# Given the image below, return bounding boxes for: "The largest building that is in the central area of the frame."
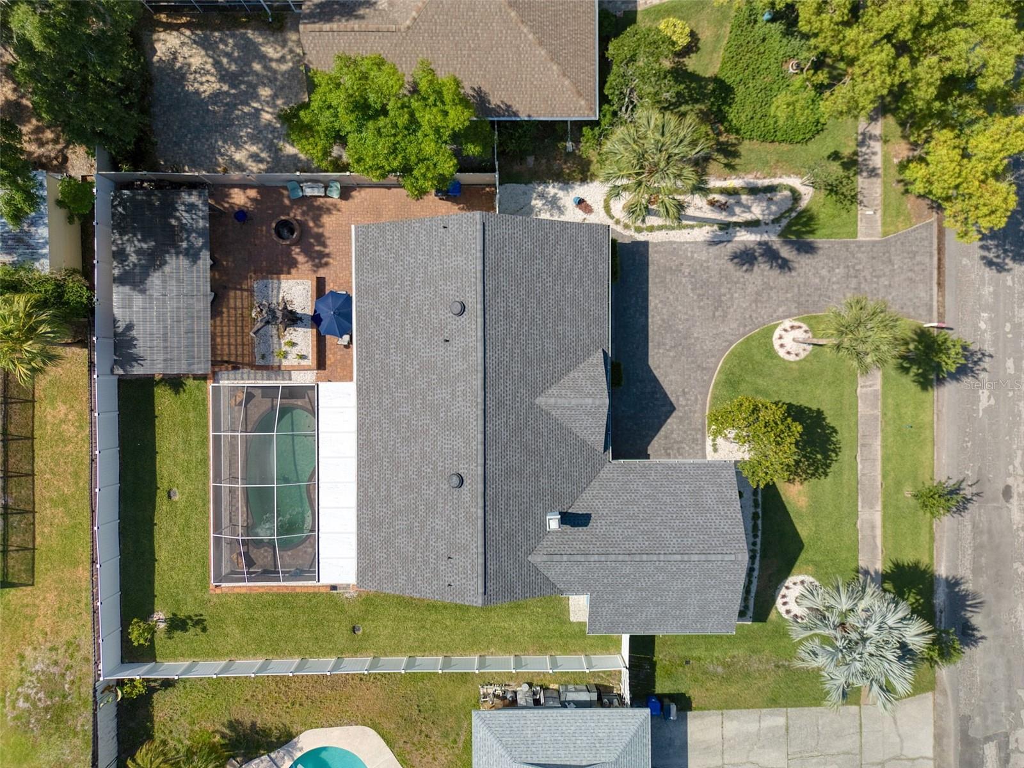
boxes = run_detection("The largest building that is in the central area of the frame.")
[353,213,747,635]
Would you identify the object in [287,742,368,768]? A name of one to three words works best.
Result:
swimming pool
